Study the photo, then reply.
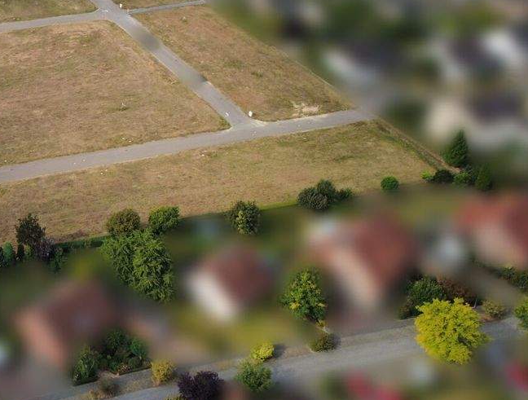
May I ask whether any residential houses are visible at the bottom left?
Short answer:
Yes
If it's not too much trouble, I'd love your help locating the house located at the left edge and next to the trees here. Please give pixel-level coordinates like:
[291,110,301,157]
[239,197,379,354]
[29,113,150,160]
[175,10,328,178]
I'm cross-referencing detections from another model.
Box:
[24,287,126,376]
